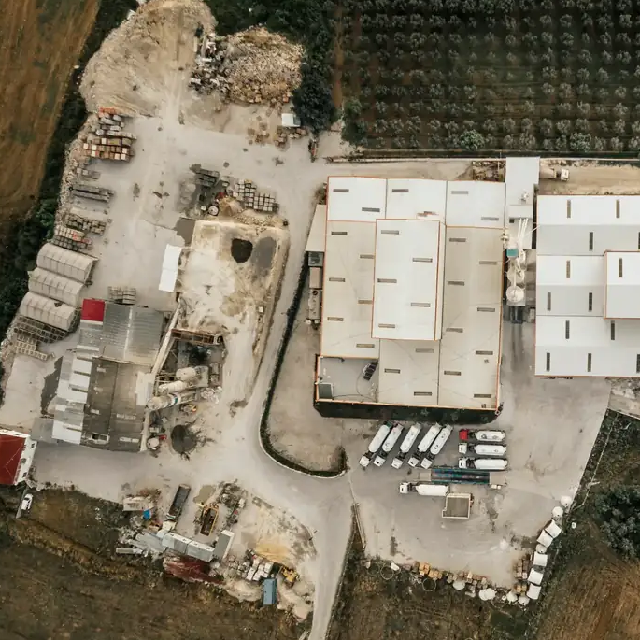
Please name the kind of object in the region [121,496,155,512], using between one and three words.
building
